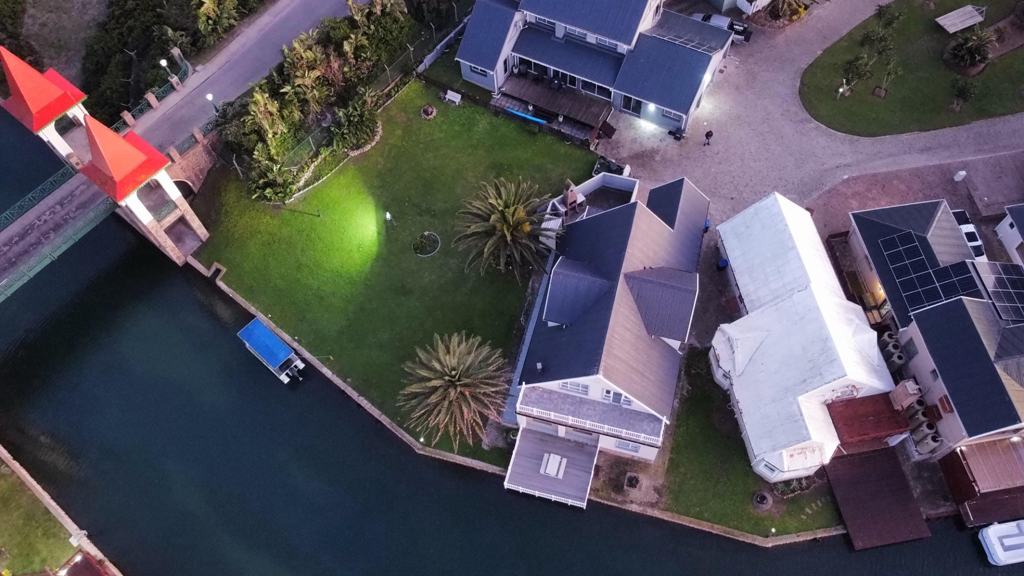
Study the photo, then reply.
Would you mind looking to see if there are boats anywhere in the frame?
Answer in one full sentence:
Yes, a boat appears in the view.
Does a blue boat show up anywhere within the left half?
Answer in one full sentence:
Yes, the scene does show a blue boat within the left half.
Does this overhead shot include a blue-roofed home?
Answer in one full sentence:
Yes, there's a blue-roofed home here.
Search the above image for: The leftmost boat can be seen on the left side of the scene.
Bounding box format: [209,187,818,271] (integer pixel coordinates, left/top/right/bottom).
[238,318,312,390]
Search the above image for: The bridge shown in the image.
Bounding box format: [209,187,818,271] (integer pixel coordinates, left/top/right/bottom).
[0,161,123,314]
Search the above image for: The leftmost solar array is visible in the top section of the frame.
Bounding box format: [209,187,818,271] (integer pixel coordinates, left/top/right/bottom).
[652,30,721,57]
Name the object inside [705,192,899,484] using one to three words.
house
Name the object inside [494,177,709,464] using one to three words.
house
